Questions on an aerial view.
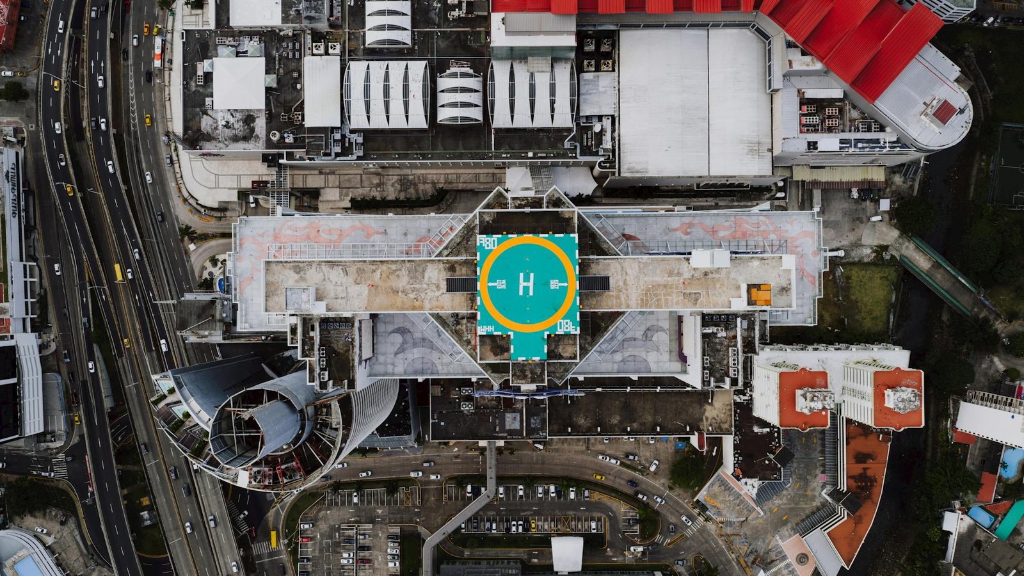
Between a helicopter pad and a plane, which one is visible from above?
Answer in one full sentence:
I can see a helicopter pad in this picture.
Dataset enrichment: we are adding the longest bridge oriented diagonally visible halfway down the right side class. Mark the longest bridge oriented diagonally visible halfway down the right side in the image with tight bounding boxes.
[883,230,997,326]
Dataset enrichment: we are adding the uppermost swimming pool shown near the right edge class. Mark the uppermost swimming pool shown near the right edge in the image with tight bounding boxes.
[998,446,1024,480]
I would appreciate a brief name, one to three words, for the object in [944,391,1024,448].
house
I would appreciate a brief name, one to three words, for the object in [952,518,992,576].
house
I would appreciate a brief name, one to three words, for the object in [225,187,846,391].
building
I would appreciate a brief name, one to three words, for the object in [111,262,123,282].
vehicle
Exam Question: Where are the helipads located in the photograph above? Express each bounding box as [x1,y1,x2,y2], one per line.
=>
[446,231,609,363]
